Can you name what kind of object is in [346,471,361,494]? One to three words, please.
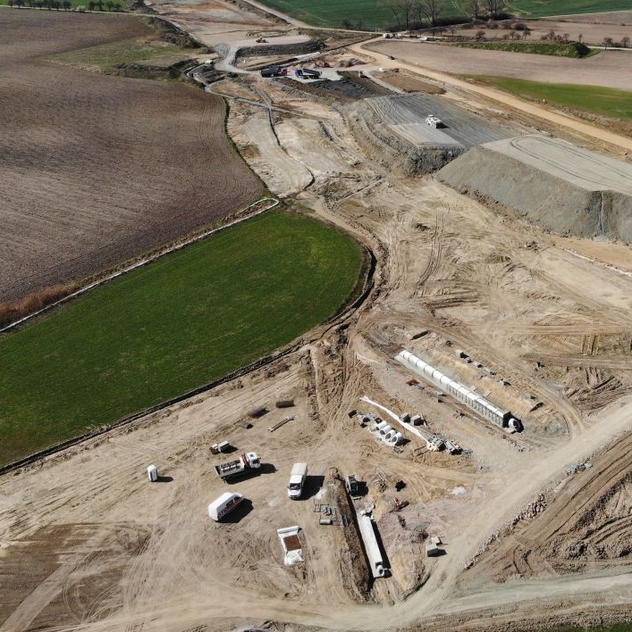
work vehicle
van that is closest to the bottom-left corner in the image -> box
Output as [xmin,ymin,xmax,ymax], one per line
[203,487,249,523]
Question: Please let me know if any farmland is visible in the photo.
Yes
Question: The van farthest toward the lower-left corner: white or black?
white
